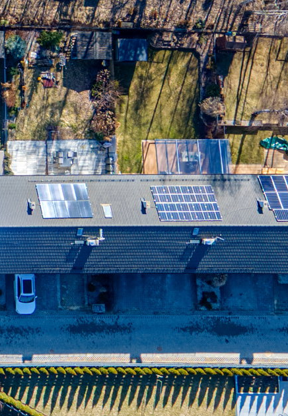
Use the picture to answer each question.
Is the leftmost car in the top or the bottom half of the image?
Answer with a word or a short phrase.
bottom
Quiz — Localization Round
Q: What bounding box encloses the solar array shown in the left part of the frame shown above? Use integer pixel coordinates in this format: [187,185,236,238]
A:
[33,183,98,217]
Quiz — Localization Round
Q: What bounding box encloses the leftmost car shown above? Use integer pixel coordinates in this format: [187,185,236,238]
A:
[14,274,36,314]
